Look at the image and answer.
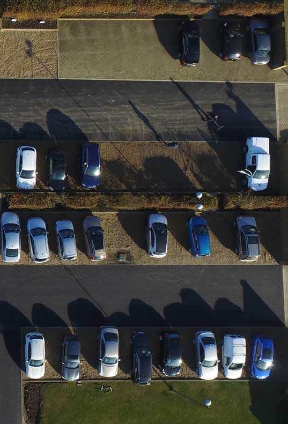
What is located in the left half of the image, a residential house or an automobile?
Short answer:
automobile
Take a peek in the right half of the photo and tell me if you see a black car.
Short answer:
Yes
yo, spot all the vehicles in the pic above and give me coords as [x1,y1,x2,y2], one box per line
[218,333,246,380]
[53,219,77,261]
[77,142,104,188]
[183,216,209,259]
[174,22,200,67]
[142,214,169,259]
[244,21,271,65]
[156,332,183,376]
[246,334,274,379]
[25,217,49,263]
[81,216,106,263]
[190,330,218,380]
[236,137,271,192]
[58,335,83,380]
[45,147,68,191]
[22,331,47,379]
[230,217,261,263]
[0,211,22,263]
[94,326,120,377]
[14,146,38,191]
[218,23,244,63]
